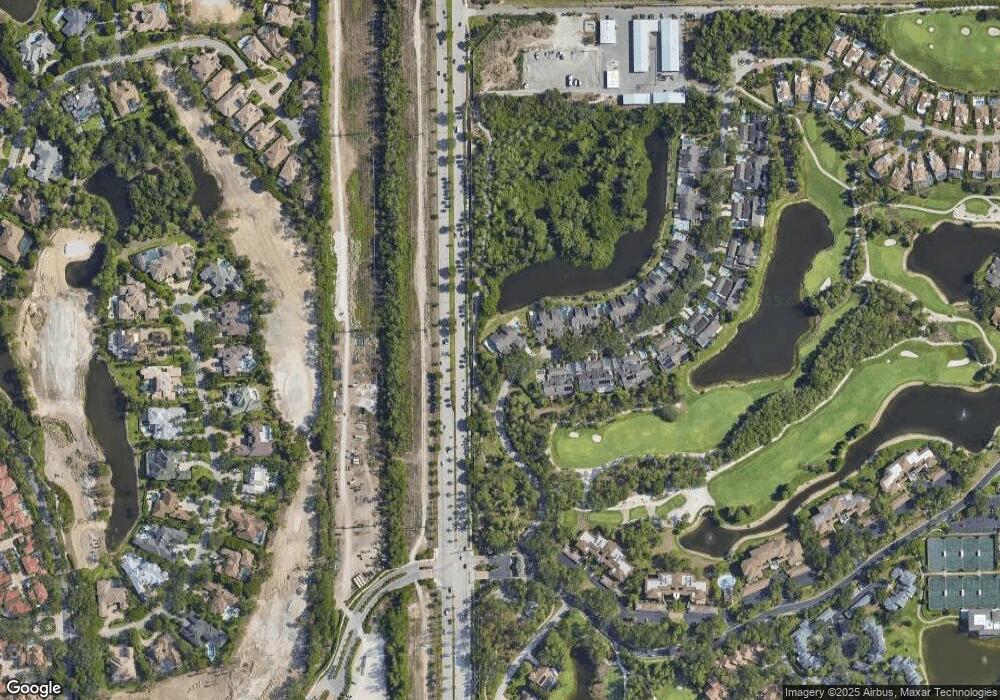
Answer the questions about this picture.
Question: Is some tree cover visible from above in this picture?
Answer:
Yes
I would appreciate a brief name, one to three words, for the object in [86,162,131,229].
pond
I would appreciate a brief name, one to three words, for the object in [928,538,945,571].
tennis court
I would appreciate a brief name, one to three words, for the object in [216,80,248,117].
house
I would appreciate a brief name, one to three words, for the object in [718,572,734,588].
swimming pool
